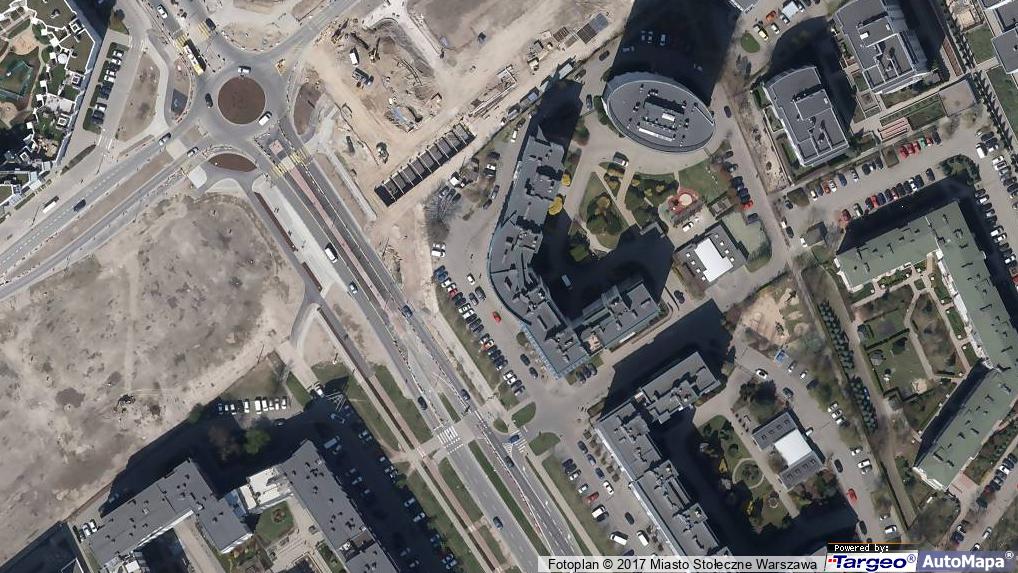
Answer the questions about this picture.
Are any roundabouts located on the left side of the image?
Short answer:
Yes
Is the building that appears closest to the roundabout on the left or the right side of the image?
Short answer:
left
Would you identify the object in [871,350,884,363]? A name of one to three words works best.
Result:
gazebo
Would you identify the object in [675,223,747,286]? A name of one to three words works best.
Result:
building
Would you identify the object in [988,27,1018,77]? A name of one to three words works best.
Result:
building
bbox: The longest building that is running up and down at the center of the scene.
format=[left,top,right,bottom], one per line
[489,125,592,378]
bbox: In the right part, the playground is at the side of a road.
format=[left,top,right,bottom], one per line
[671,187,698,214]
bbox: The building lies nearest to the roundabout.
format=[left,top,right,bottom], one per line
[0,0,103,211]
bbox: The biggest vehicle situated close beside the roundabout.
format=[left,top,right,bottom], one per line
[184,45,202,73]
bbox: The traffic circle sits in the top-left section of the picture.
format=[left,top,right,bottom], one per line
[196,56,287,146]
